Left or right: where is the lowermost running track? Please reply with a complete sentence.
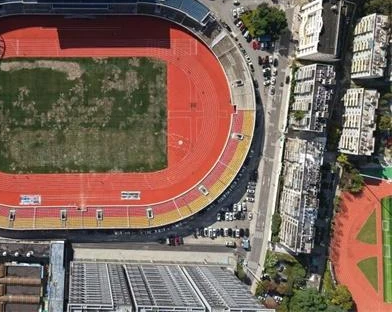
You can find the lowermost running track on the right side of the picture.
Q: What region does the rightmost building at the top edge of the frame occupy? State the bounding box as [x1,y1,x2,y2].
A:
[349,13,392,80]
